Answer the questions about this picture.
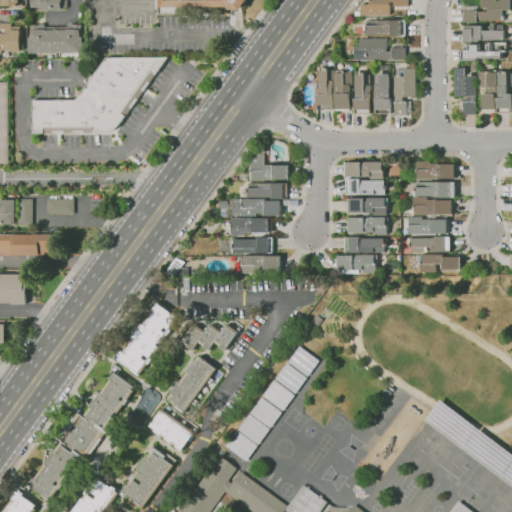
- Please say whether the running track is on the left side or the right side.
right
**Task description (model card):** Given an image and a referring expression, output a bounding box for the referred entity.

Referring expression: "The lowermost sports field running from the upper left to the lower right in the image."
[364,303,512,426]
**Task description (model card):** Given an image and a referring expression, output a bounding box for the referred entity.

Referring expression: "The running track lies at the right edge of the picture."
[354,294,512,433]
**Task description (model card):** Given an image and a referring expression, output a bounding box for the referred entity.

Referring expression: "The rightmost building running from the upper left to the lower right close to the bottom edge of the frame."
[426,402,512,486]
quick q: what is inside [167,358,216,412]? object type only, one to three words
building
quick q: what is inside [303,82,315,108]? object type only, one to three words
swimming pool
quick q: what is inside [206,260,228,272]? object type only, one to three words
swimming pool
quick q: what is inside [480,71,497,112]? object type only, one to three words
house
